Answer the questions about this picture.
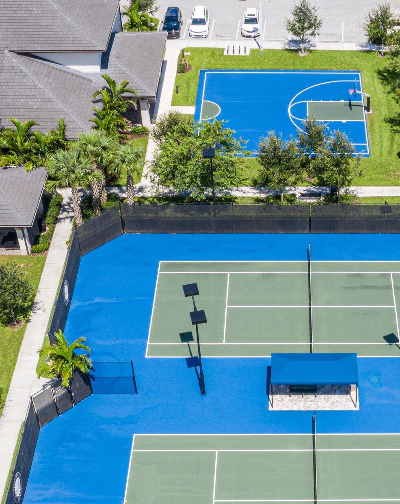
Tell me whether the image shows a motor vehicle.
Yes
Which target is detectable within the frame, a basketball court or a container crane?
basketball court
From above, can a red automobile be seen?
No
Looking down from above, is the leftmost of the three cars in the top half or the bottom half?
top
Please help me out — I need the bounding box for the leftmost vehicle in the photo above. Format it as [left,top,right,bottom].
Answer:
[160,5,181,34]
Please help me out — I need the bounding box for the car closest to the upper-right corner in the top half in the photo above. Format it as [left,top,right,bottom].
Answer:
[239,10,260,34]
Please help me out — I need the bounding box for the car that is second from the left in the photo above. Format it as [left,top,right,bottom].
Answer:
[187,2,210,34]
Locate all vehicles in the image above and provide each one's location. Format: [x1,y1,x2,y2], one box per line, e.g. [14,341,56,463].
[160,5,181,34]
[187,2,210,34]
[239,10,260,34]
